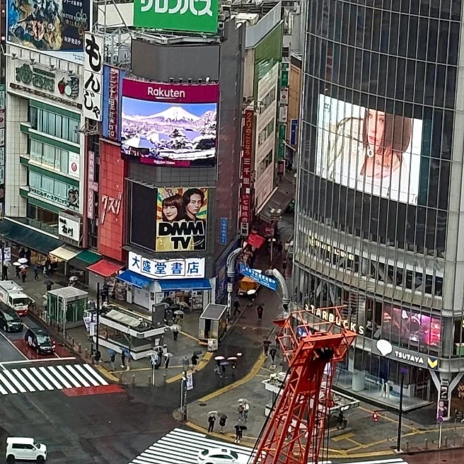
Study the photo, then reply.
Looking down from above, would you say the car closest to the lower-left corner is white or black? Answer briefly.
white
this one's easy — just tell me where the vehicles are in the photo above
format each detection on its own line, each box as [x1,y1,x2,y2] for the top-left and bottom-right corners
[22,325,60,352]
[194,445,252,464]
[0,273,32,309]
[4,436,49,463]
[0,299,28,330]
